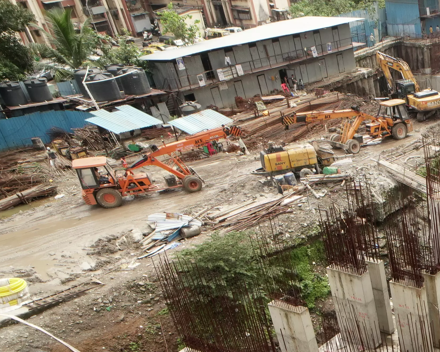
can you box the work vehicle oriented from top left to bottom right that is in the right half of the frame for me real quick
[378,50,440,120]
